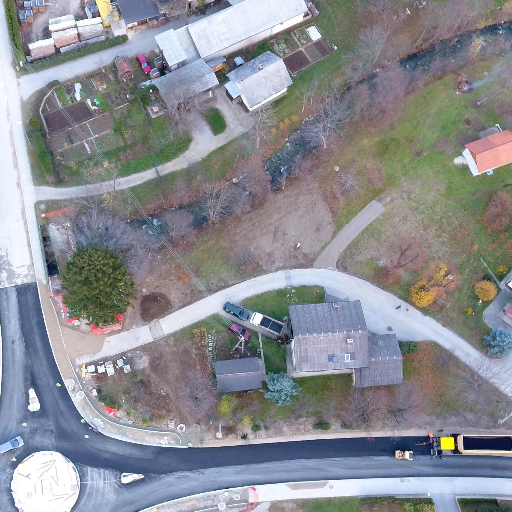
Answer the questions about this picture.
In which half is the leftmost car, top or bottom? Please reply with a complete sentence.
You can find the leftmost car in the bottom half.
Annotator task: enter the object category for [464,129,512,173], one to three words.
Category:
shed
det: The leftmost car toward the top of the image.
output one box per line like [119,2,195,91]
[135,53,152,75]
